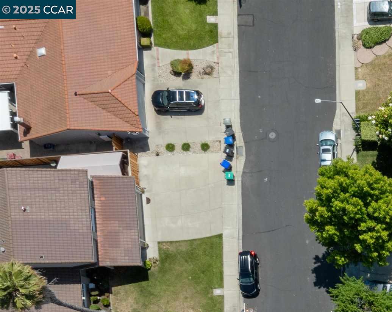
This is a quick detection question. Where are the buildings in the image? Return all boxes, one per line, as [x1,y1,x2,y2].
[0,169,153,312]
[0,0,152,146]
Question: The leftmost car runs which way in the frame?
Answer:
from side to side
